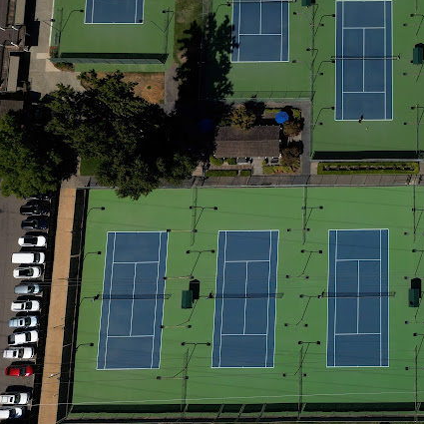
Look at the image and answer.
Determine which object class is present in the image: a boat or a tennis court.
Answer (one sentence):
Looking from above, you can make out a tennis court.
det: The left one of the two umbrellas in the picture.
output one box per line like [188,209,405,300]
[200,119,213,132]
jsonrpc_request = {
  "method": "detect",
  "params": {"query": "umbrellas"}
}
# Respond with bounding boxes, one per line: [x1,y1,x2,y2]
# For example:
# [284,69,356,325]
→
[276,110,290,123]
[200,119,213,132]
